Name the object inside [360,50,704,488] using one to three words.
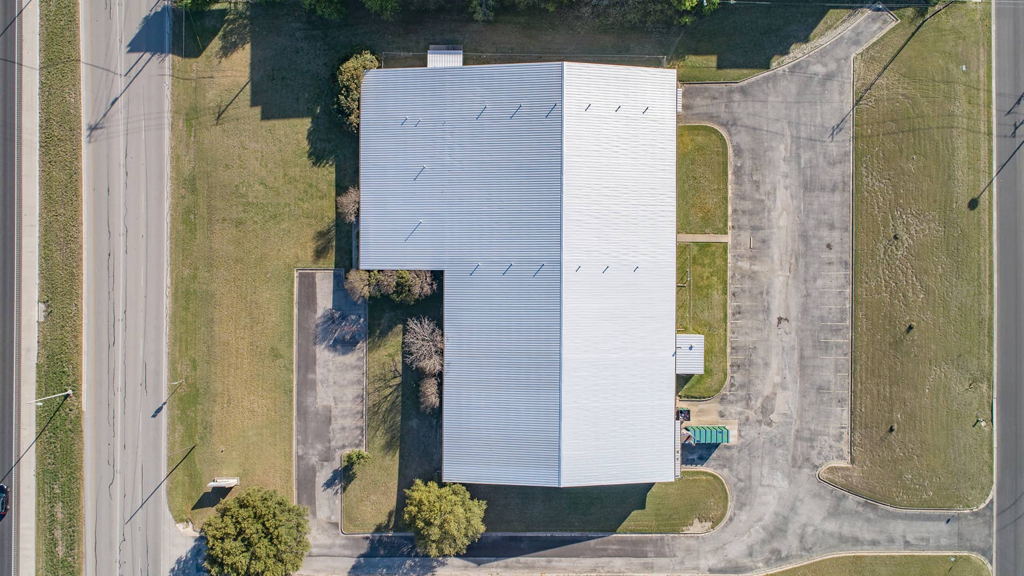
building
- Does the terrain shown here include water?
No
